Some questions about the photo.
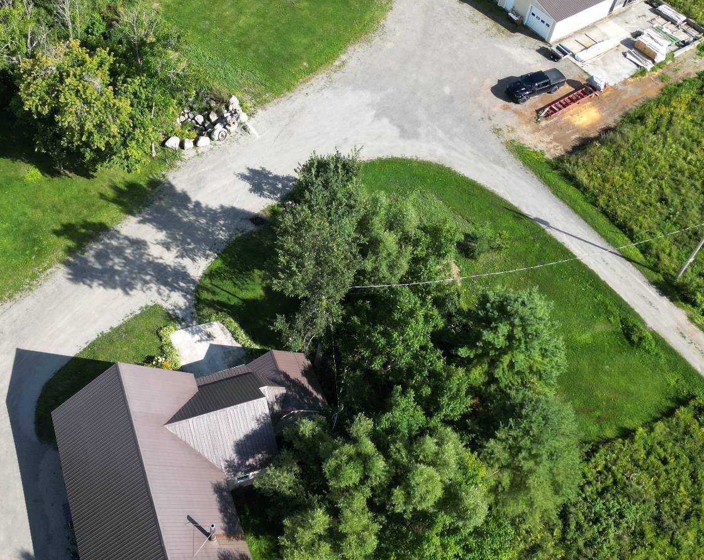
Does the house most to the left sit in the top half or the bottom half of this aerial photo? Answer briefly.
bottom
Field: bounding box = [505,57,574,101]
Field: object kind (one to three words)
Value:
truck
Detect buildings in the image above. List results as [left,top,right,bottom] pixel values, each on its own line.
[494,0,636,40]
[53,349,329,560]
